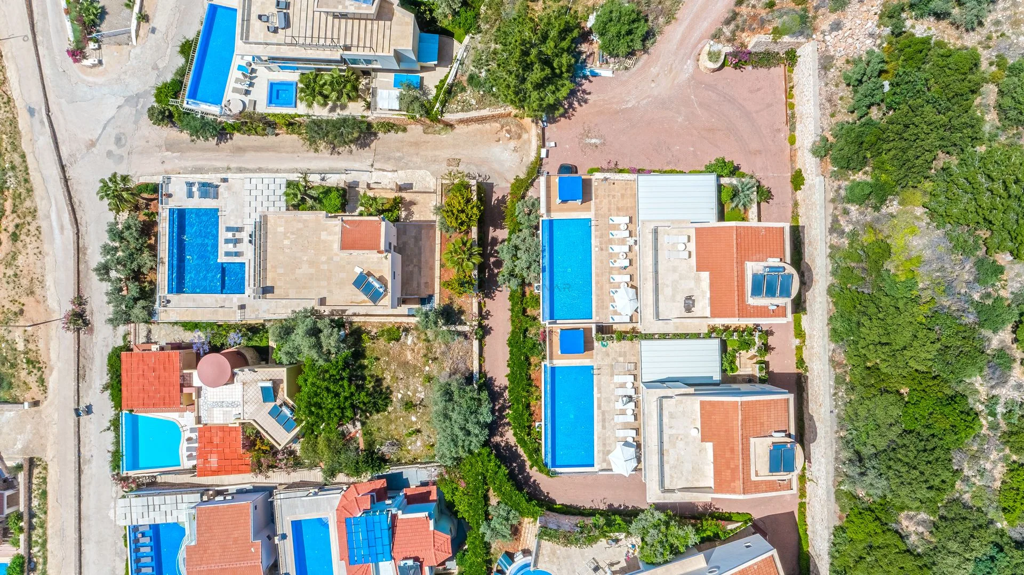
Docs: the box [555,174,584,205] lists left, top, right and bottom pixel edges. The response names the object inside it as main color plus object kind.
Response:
blue gazebo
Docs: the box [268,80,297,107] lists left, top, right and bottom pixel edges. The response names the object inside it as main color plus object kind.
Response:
blue swimming pool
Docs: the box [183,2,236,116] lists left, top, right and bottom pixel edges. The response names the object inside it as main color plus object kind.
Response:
blue swimming pool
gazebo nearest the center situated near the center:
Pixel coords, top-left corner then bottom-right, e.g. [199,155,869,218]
[558,327,587,356]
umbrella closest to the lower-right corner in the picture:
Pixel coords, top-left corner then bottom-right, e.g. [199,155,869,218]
[613,450,644,479]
